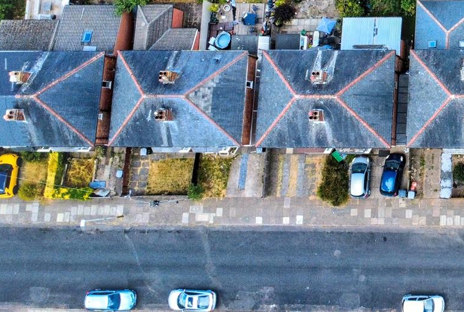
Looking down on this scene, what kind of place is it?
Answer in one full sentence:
What you see here is a residential area.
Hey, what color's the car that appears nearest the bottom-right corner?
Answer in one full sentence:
The car that appears nearest the bottom-right corner is white.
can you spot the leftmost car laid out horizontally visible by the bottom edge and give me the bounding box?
[82,286,140,312]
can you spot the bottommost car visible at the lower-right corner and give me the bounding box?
[401,292,447,312]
